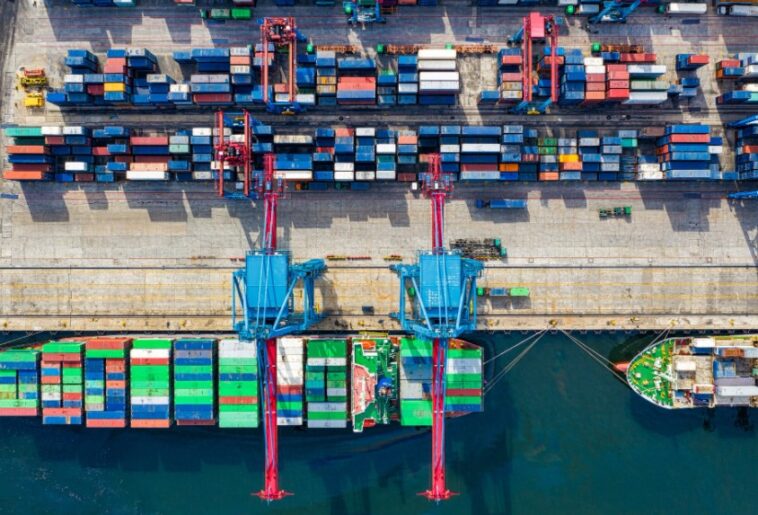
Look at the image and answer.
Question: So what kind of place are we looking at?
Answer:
port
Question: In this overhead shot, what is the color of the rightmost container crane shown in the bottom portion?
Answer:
blue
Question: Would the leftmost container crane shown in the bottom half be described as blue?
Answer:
Yes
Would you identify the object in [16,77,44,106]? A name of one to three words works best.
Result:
work vehicle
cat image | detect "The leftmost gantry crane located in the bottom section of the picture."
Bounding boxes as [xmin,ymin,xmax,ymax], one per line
[227,154,332,502]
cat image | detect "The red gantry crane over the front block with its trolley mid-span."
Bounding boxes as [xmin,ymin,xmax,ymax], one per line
[217,113,268,204]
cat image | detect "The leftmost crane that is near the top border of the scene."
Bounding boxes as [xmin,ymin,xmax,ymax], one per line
[261,18,309,118]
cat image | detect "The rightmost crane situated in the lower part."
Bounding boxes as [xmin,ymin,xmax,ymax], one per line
[387,154,488,502]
